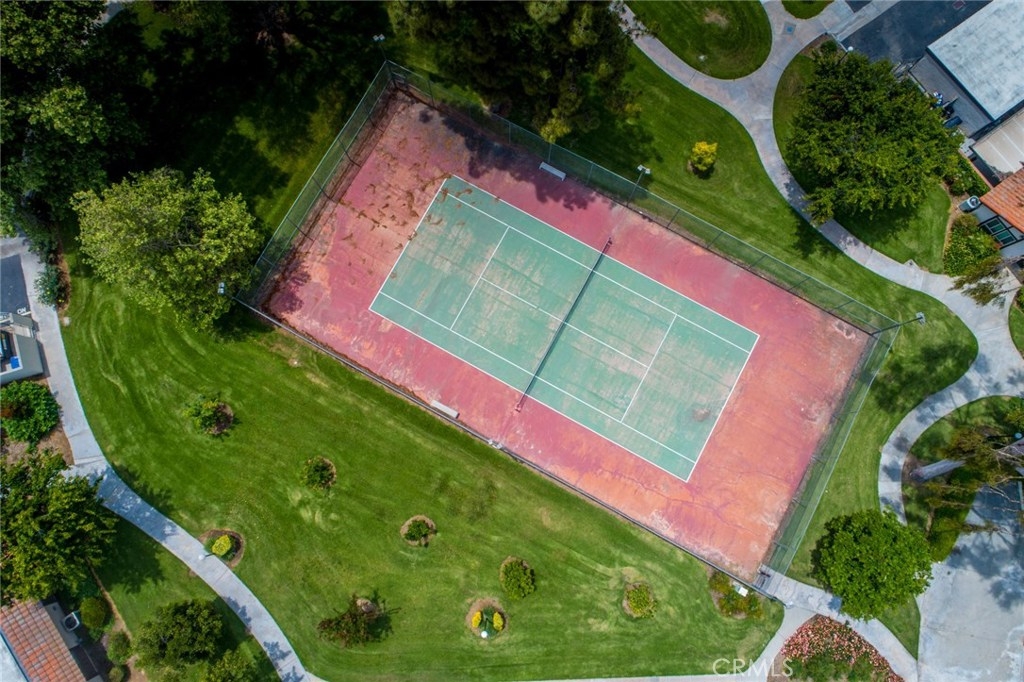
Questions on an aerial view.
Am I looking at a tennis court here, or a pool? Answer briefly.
tennis court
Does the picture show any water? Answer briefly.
No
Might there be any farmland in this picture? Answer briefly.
No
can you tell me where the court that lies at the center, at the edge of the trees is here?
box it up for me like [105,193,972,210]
[257,89,874,586]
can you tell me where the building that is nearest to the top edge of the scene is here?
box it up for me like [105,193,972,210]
[914,0,1024,133]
